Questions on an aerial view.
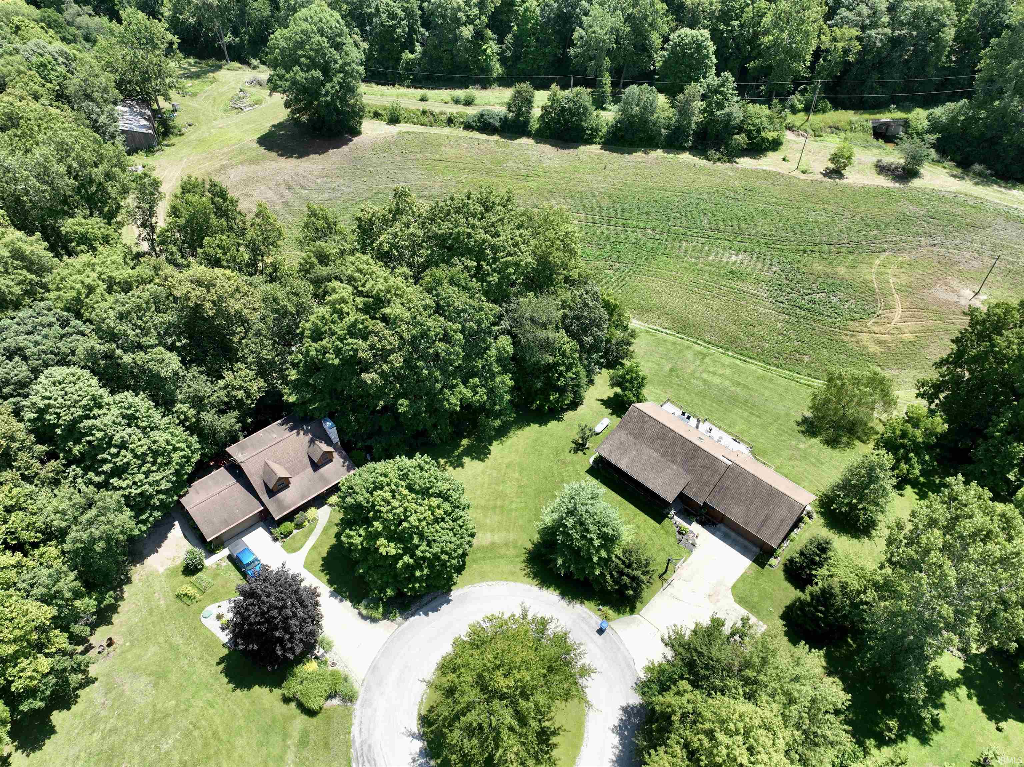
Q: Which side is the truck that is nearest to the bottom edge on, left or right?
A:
left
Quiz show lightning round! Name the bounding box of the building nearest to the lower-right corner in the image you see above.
[595,402,817,554]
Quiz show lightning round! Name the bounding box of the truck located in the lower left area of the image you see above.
[227,538,263,582]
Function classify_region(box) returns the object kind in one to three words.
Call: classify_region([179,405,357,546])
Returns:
house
